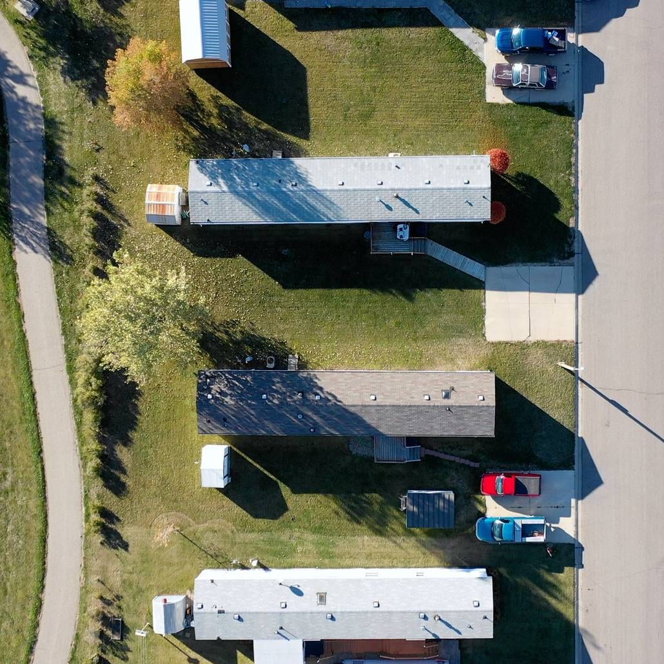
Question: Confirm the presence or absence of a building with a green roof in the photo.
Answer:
No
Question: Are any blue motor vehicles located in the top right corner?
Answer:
Yes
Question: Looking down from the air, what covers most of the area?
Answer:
paved ground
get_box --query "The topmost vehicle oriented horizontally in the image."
[494,24,567,55]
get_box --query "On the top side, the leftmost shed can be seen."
[140,184,185,225]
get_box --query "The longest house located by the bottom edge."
[193,569,494,641]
